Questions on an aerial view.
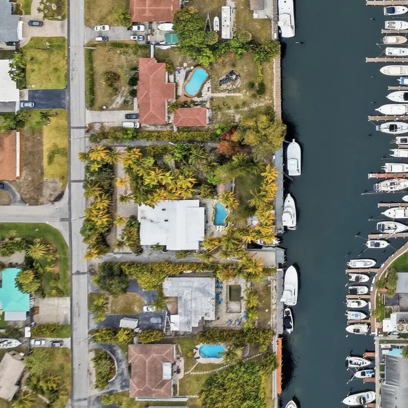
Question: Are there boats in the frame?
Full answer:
Yes, a boat appears in the view.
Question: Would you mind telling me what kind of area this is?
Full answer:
The area seen from above is a residential area.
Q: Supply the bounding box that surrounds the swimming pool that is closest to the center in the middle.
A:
[213,202,228,227]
